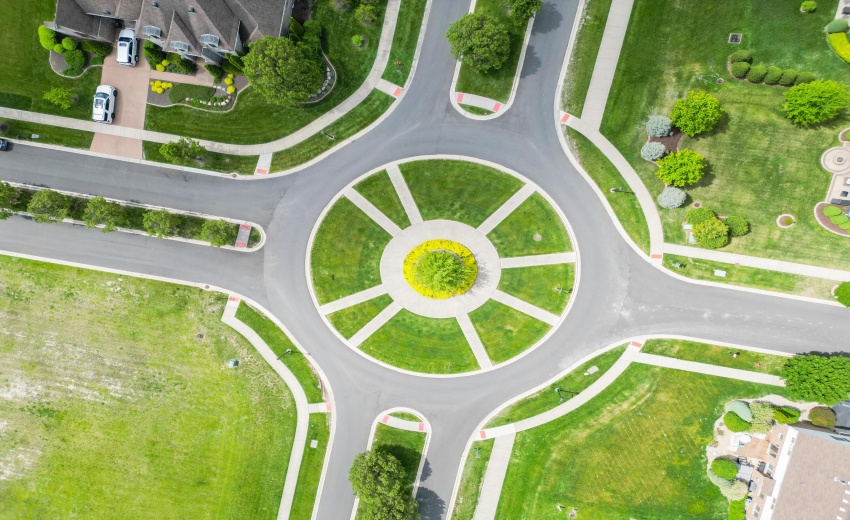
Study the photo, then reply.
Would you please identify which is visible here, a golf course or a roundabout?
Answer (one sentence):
The image shows a roundabout.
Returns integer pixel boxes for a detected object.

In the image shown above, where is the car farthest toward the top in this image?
[115,29,137,70]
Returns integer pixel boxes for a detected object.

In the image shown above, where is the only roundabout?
[264,91,633,428]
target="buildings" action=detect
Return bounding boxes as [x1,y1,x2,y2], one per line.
[747,420,850,520]
[56,0,293,62]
